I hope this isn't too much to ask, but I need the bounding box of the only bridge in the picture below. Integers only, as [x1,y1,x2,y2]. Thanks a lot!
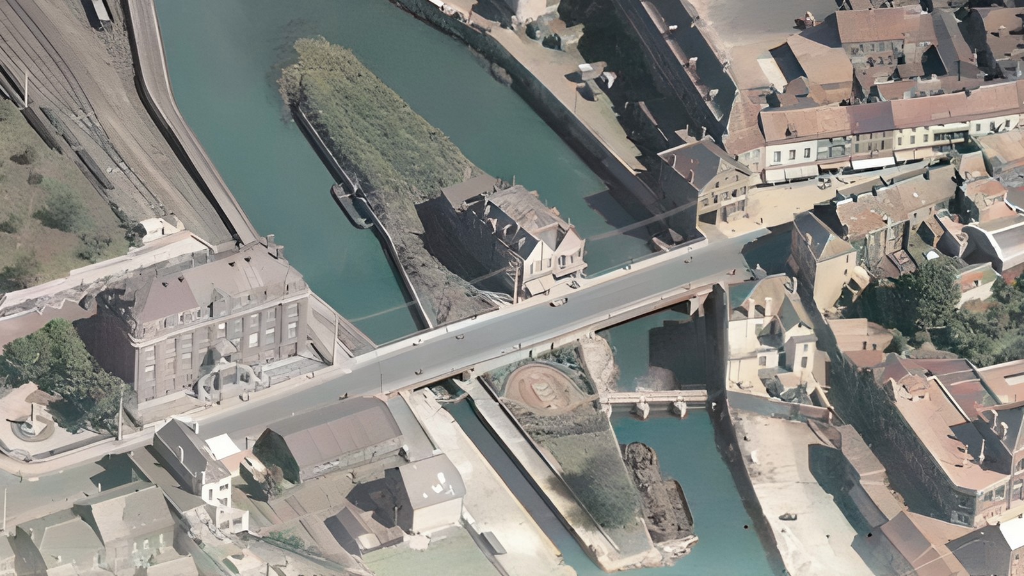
[373,234,730,392]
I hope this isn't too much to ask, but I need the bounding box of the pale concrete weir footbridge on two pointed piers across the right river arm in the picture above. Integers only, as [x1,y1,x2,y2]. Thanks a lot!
[596,389,708,421]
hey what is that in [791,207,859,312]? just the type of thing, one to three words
house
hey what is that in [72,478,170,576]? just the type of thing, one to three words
house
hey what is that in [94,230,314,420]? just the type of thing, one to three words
building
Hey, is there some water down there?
Yes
